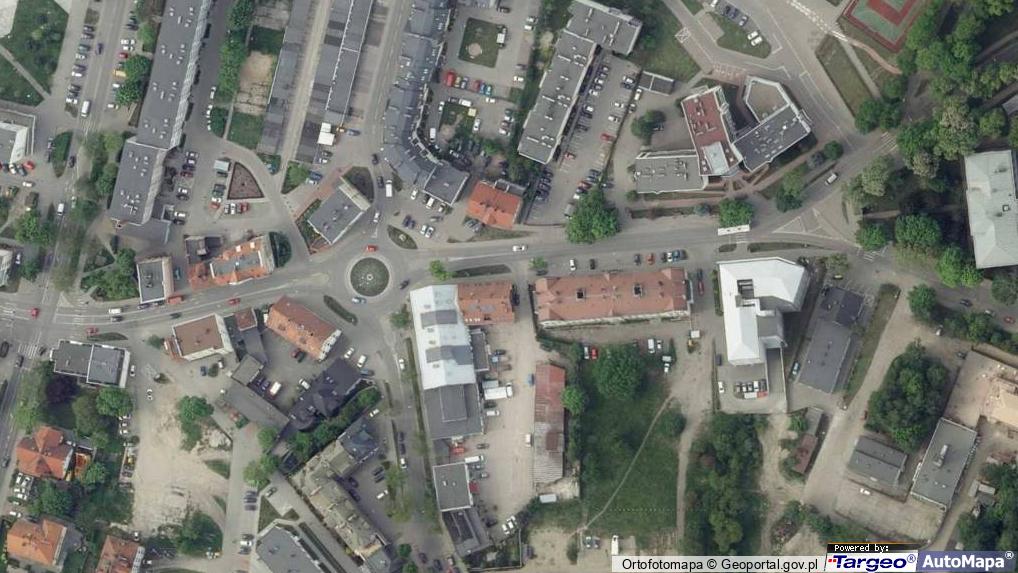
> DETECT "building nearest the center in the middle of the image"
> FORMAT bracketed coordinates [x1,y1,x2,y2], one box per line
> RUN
[458,281,518,326]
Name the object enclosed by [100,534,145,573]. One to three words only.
house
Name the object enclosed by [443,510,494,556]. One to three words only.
shed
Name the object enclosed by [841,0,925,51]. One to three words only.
sports court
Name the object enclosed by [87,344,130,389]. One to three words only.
building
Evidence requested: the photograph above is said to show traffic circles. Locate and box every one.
[346,254,394,300]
